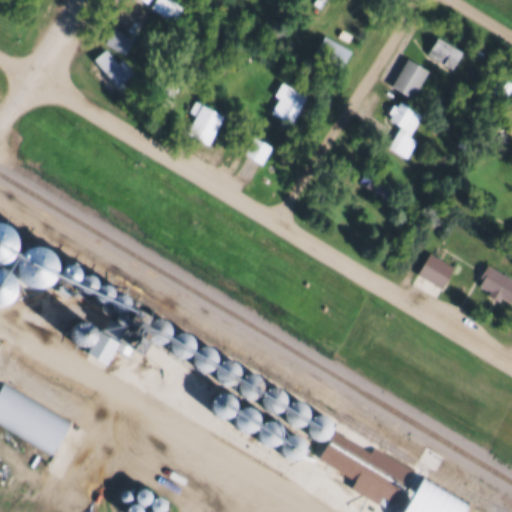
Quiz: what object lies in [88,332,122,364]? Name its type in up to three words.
shed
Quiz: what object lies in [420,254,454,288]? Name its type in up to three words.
building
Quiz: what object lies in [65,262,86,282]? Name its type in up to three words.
silo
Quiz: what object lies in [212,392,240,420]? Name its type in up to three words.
silo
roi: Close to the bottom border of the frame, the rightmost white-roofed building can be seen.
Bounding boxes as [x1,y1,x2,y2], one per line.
[404,478,470,512]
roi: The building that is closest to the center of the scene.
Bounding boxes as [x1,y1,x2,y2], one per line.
[246,138,273,166]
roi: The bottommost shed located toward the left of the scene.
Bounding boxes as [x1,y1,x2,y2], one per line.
[0,385,71,454]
